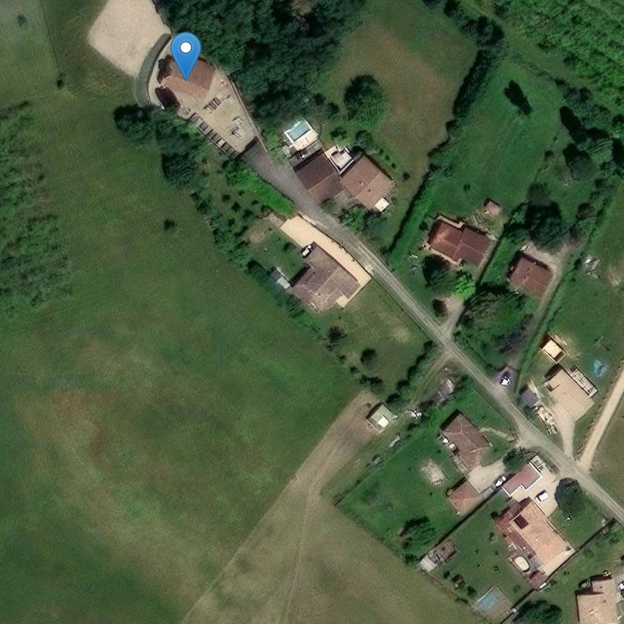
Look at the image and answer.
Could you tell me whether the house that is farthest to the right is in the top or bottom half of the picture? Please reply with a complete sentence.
Seen from above, the house that is farthest to the right lies in the bottom half of the view.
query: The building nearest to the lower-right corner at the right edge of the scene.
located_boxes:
[577,580,622,624]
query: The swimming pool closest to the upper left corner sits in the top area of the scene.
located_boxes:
[284,119,318,150]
